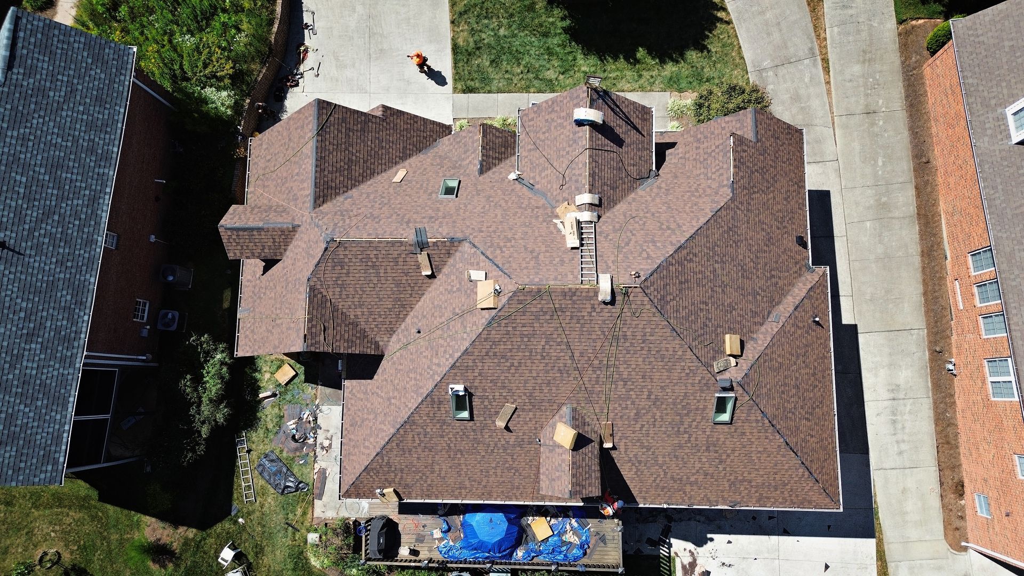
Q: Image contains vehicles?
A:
No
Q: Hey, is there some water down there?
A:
No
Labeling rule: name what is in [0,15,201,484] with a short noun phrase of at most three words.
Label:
house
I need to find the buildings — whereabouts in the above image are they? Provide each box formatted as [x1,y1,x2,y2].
[925,0,1024,571]
[0,15,201,484]
[218,85,842,513]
